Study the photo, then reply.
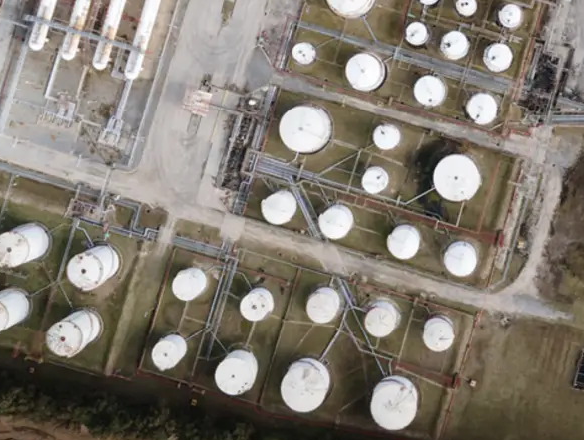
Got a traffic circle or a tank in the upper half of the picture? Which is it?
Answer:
tank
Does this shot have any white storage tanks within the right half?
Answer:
Yes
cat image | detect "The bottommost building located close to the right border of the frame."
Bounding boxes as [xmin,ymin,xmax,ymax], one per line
[524,45,570,126]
